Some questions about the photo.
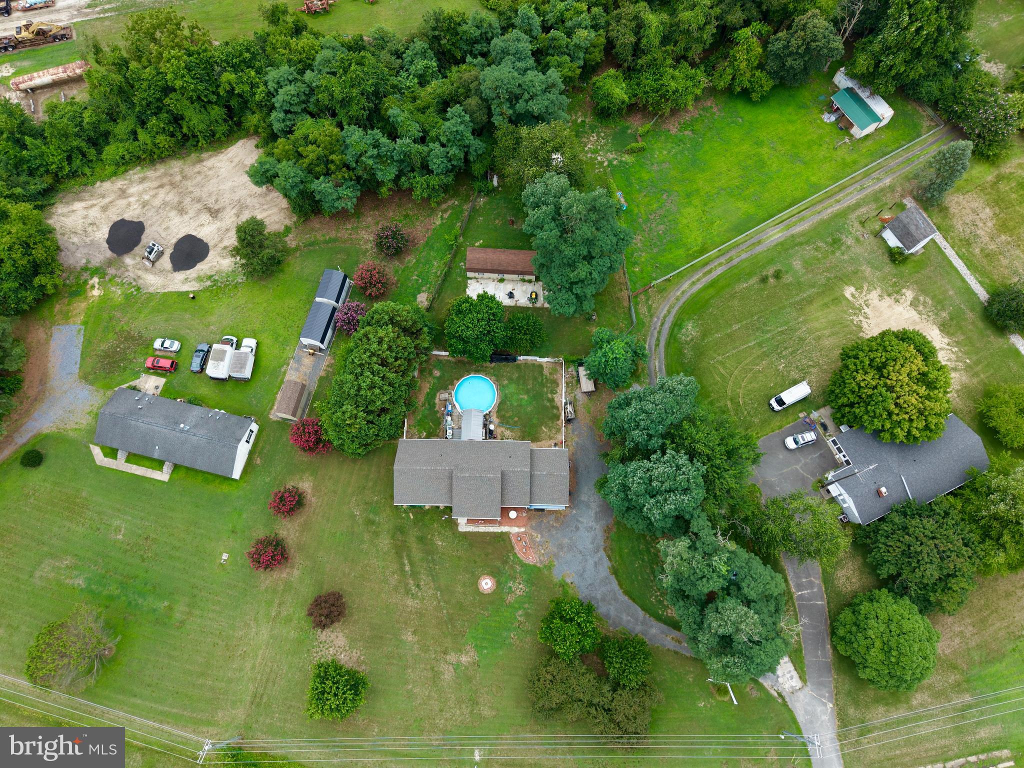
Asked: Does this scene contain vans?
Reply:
Yes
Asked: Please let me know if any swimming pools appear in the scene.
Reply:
Yes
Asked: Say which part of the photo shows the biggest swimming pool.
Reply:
center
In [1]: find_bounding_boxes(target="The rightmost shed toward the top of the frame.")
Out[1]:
[878,208,937,252]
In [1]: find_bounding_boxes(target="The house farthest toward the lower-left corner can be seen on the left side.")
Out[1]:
[95,387,260,480]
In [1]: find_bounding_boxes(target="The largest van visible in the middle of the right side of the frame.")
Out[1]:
[766,380,817,413]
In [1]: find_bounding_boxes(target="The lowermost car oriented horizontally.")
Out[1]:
[782,431,819,450]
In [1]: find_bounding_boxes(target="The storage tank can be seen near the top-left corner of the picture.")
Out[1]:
[9,59,90,94]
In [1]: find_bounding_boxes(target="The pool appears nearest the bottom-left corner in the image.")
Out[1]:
[453,374,497,413]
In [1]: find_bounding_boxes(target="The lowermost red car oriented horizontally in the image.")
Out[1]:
[145,356,179,374]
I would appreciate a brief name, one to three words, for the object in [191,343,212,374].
car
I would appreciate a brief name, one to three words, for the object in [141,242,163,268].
work vehicle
